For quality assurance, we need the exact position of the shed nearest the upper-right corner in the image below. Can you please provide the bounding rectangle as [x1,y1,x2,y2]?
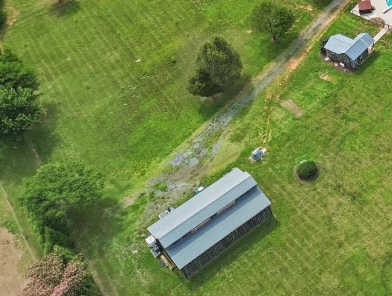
[325,33,375,68]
